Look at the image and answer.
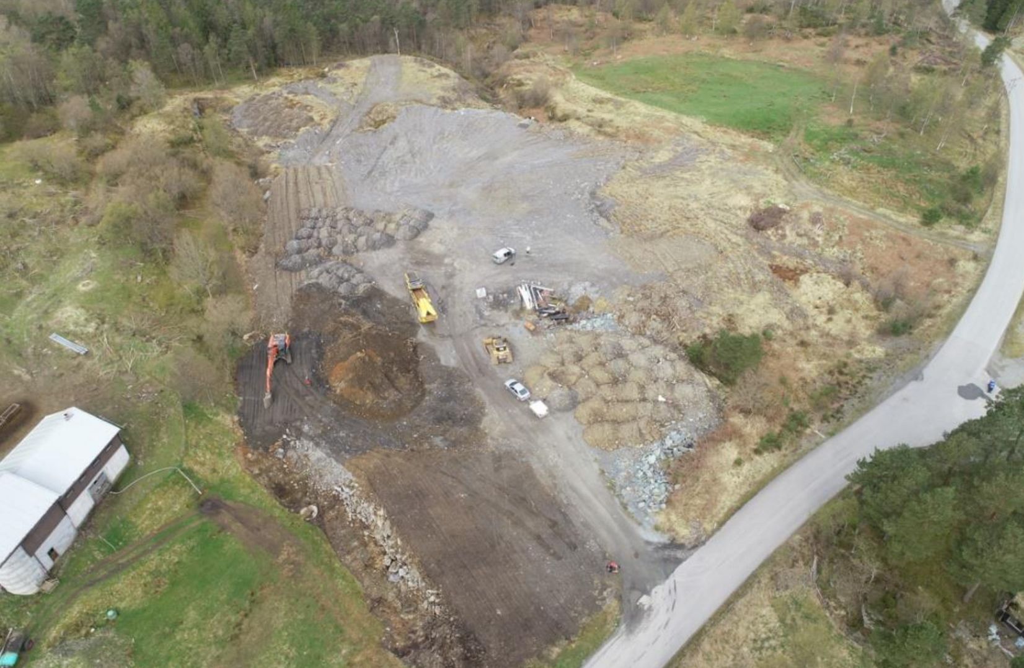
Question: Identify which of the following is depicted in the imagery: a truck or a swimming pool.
truck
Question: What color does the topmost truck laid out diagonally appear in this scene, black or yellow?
yellow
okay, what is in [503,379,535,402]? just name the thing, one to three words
car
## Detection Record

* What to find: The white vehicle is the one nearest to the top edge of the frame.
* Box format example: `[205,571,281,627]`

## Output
[490,245,516,262]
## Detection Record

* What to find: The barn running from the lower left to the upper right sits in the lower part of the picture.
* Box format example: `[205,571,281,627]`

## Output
[0,407,131,610]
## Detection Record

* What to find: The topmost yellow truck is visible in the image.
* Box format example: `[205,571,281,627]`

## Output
[403,274,440,321]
